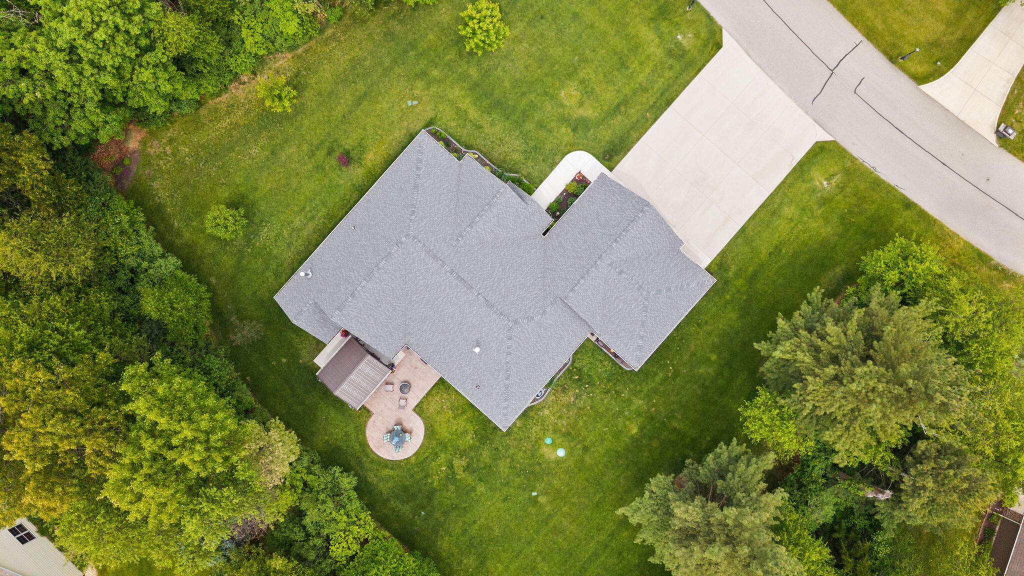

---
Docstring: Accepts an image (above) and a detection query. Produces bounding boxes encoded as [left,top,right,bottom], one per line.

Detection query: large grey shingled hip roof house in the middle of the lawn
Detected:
[273,130,718,432]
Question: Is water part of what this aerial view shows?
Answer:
No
